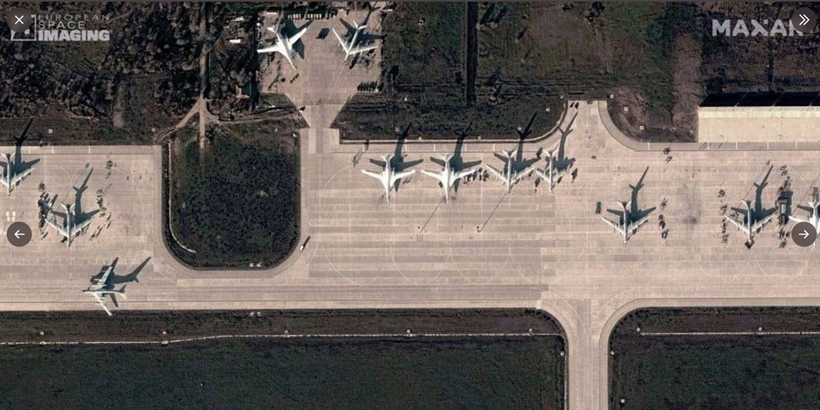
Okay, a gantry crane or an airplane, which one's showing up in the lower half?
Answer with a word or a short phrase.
airplane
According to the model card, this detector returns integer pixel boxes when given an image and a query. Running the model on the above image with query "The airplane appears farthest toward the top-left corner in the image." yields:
[0,150,34,199]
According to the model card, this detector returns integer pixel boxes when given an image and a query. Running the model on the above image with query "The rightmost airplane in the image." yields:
[787,202,820,250]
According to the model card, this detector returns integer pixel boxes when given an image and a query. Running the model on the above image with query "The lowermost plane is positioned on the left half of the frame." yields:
[82,266,128,316]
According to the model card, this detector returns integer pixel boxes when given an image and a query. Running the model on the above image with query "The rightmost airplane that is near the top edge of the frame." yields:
[333,16,380,62]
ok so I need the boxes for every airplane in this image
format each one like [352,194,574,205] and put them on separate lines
[0,150,34,199]
[787,202,820,250]
[534,146,569,192]
[333,16,380,62]
[725,197,775,243]
[257,24,306,70]
[601,198,651,247]
[361,154,416,203]
[43,199,93,247]
[82,266,128,316]
[420,154,474,203]
[484,147,533,195]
